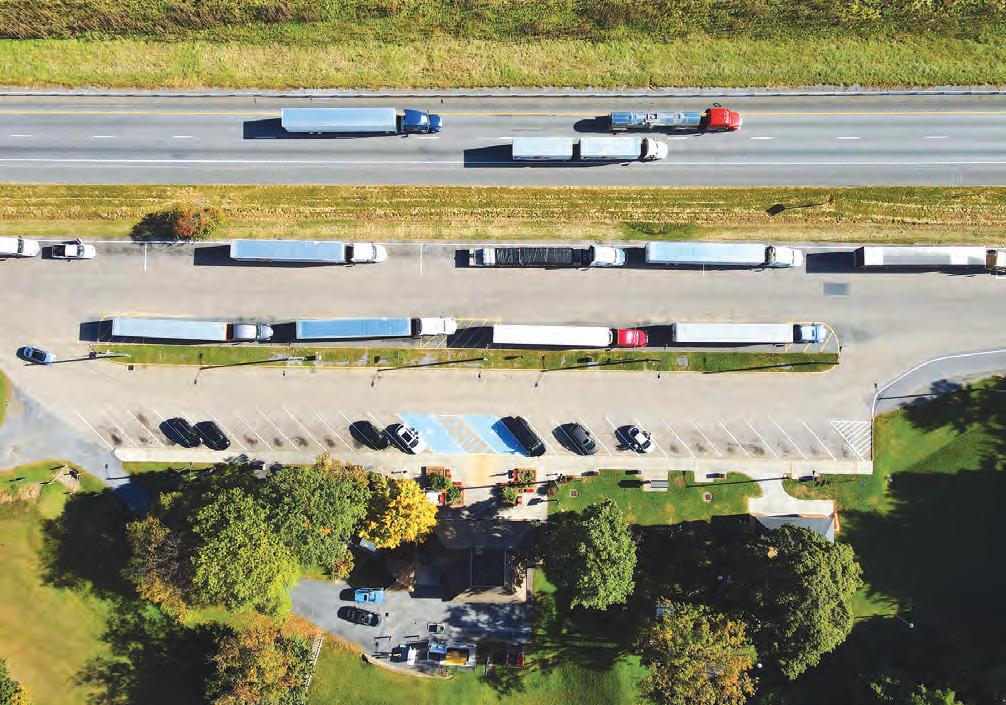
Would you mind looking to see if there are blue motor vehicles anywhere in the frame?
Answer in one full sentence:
Yes, the picture does show a blue motor vehicle.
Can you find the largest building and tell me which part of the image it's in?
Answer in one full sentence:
You can find the largest building in the bottom area of the picture.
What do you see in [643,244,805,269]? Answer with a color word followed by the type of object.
white truck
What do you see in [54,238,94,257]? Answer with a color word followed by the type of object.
white vehicle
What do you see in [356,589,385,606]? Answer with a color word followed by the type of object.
blue car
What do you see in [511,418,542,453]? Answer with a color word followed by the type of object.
black car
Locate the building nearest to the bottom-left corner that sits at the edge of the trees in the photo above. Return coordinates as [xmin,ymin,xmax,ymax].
[416,519,536,602]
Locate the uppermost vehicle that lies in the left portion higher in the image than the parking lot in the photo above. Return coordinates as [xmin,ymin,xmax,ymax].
[281,108,443,135]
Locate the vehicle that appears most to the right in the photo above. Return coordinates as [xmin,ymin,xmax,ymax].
[852,247,1006,271]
